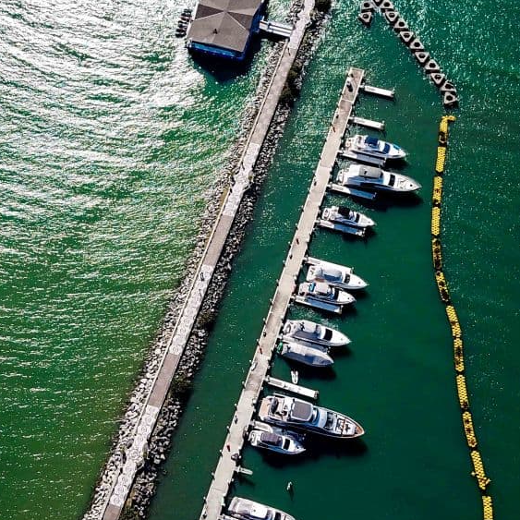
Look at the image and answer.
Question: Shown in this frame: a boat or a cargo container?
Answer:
boat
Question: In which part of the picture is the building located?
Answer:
top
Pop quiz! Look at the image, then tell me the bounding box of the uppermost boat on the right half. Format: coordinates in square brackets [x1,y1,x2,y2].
[344,134,407,160]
